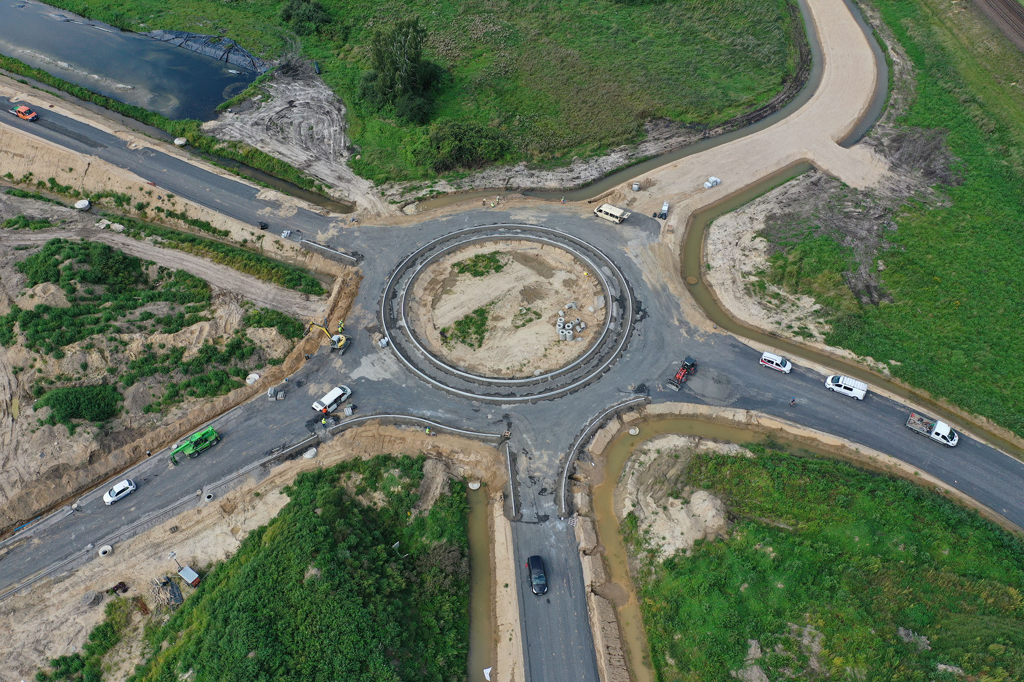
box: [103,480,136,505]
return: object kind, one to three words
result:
car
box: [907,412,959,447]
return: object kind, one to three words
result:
truck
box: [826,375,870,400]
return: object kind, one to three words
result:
vehicle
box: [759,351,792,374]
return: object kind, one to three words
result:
car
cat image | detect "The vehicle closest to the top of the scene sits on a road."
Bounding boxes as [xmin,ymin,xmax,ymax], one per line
[8,102,40,121]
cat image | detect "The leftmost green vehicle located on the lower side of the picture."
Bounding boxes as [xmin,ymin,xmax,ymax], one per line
[161,423,220,470]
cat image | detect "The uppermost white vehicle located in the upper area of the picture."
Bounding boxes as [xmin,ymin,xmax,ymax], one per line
[592,200,634,224]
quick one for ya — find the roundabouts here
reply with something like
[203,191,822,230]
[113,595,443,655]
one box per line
[296,206,727,477]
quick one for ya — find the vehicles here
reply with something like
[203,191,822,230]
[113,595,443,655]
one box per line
[826,375,870,400]
[103,480,136,505]
[313,386,352,412]
[592,200,634,224]
[310,319,350,356]
[8,102,40,121]
[527,556,549,595]
[907,412,959,447]
[666,361,691,391]
[759,351,792,374]
[161,423,220,470]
